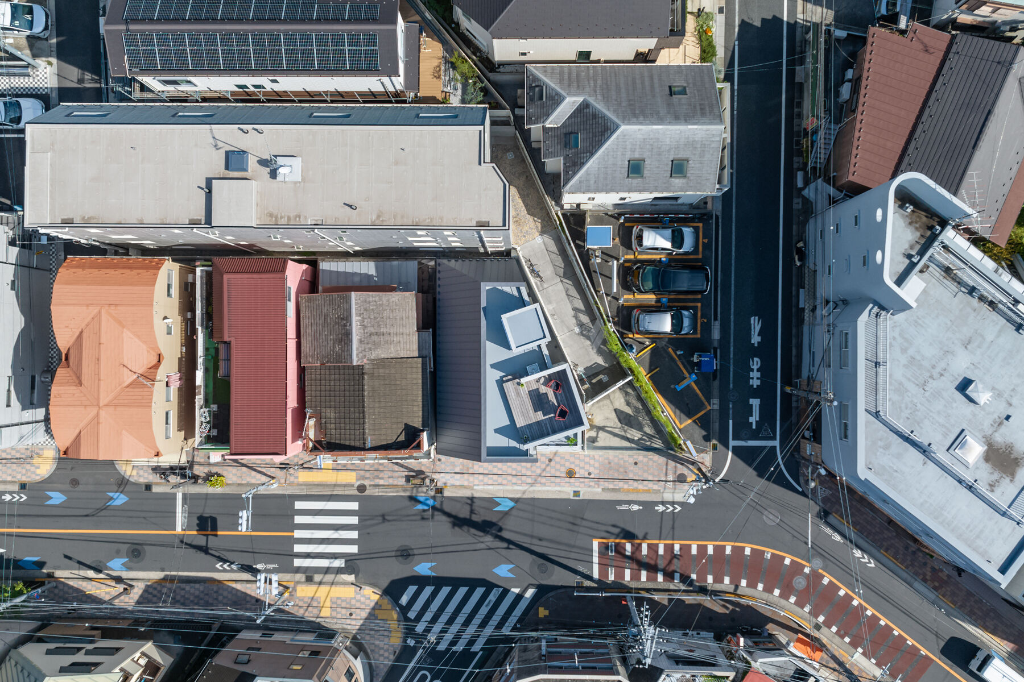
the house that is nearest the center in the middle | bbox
[436,259,591,463]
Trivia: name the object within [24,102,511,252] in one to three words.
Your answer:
building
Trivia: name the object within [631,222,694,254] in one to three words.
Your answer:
car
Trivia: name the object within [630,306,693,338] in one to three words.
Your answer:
car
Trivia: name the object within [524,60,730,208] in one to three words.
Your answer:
house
